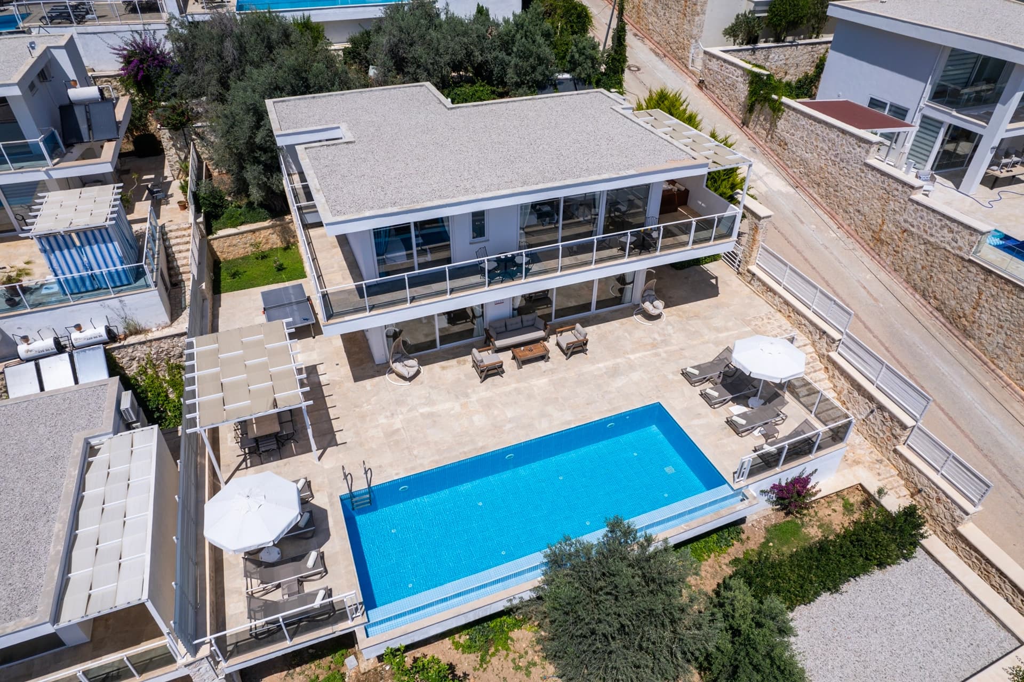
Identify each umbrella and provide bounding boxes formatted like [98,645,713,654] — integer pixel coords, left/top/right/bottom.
[202,467,303,565]
[733,334,809,407]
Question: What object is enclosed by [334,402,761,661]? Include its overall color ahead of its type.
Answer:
blue swimming pool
